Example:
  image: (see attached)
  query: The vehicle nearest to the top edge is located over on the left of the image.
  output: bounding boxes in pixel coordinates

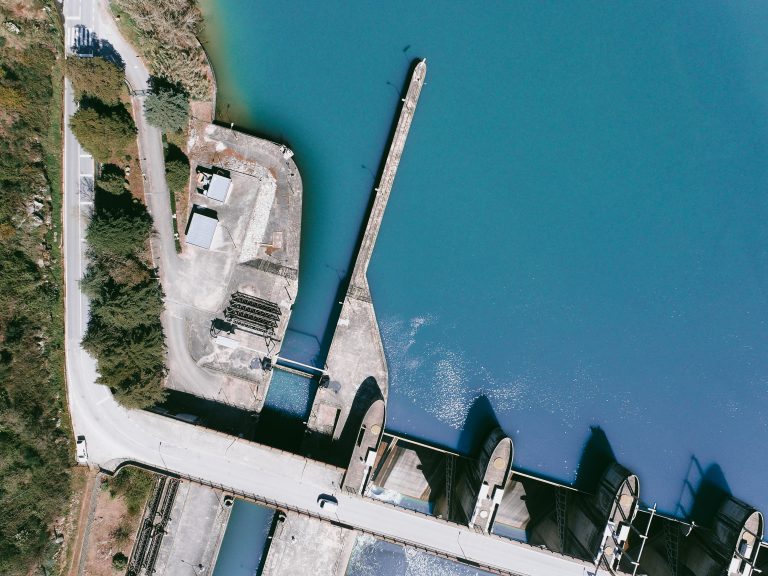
[76,439,88,463]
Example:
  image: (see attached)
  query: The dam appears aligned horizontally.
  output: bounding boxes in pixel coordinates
[343,395,768,576]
